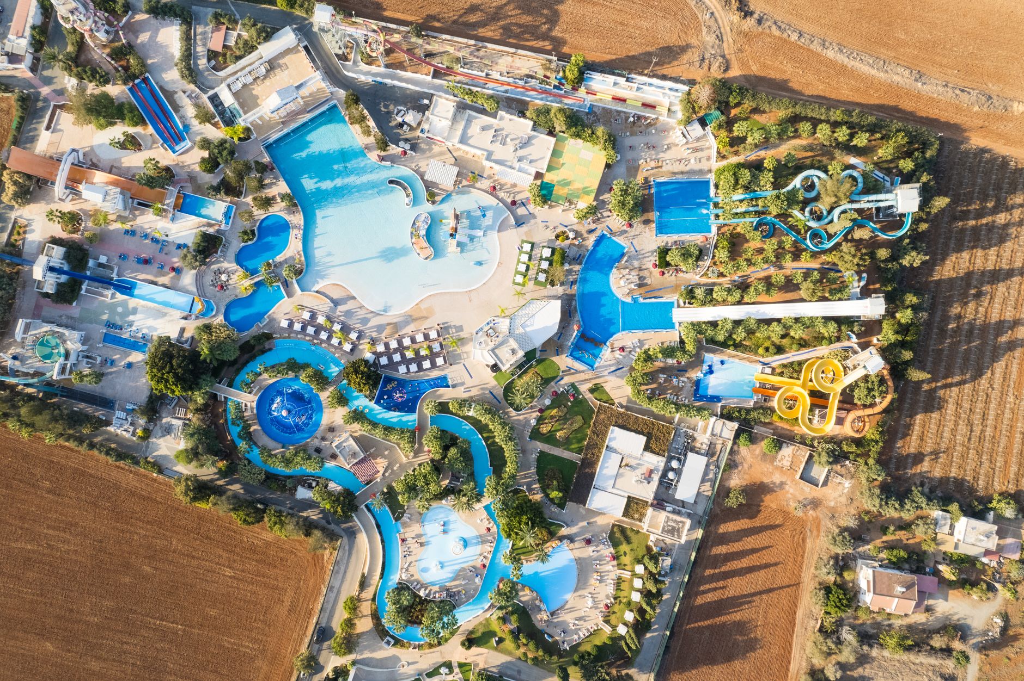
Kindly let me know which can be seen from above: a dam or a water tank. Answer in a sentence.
Visible in the photo is a water tank.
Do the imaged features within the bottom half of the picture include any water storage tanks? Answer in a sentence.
Yes, a water storage tank appears within the bottom half of the picture.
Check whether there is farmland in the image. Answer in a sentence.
Yes, there's farmland in this view.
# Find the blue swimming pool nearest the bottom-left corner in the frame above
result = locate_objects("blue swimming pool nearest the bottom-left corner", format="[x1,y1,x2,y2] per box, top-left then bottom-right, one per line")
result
[100,331,152,355]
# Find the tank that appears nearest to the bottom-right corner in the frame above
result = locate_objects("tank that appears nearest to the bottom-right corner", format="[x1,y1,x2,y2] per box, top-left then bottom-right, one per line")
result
[793,450,828,489]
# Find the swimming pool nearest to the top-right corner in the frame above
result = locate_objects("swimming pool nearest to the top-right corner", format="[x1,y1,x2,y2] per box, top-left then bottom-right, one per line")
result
[650,175,715,240]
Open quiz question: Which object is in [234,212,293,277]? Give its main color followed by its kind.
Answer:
blue swimming pool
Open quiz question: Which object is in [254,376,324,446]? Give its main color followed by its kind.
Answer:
blue swimming pool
